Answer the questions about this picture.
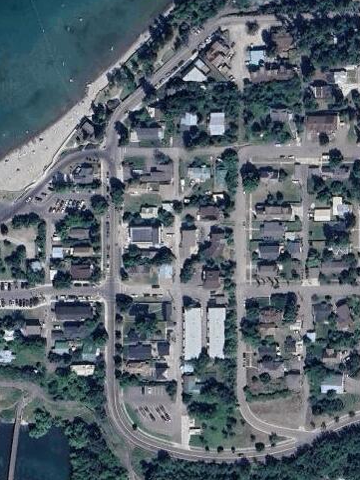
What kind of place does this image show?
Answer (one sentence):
This image shows a residential area.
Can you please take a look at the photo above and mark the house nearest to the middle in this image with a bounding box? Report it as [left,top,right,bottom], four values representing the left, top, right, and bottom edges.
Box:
[181,224,199,257]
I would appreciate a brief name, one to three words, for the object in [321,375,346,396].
house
